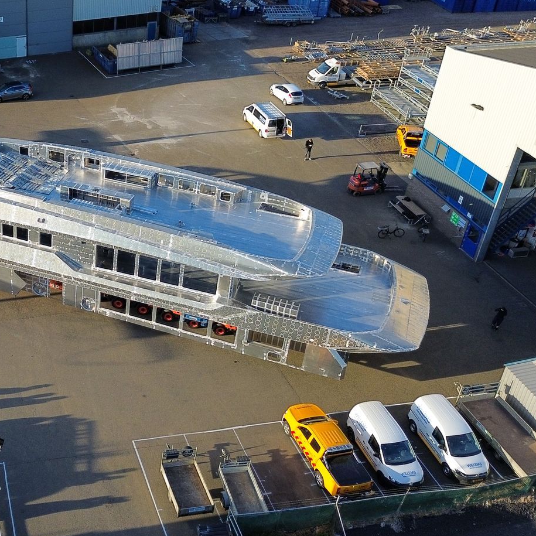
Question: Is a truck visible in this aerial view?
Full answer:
Yes, I can see a truck in this picture.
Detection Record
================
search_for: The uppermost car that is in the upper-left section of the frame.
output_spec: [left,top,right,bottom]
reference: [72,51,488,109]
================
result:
[0,78,32,99]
